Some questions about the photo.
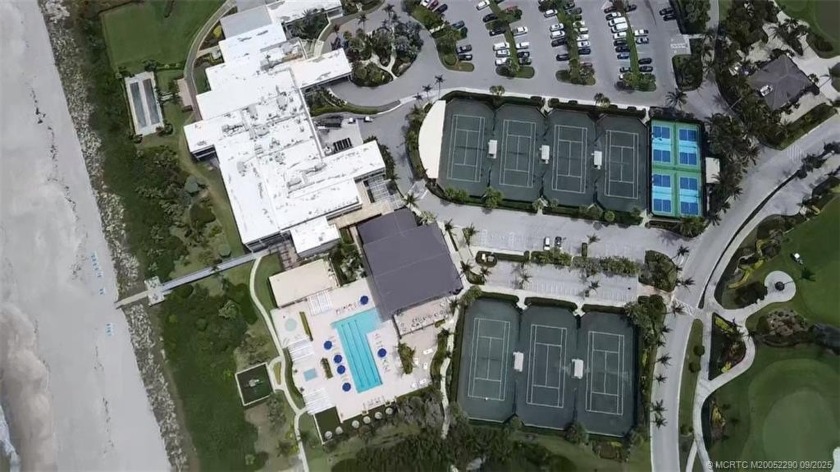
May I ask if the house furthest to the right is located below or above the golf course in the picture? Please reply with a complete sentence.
As seen from overhead, the house furthest to the right falls above the golf course in the picture.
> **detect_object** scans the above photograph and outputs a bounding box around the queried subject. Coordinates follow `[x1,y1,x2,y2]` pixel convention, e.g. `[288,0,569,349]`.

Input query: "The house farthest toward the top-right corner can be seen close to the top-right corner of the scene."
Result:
[746,53,815,110]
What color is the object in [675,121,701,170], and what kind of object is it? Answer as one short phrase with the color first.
blue sports court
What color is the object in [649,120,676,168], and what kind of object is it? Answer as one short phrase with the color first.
blue sports court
